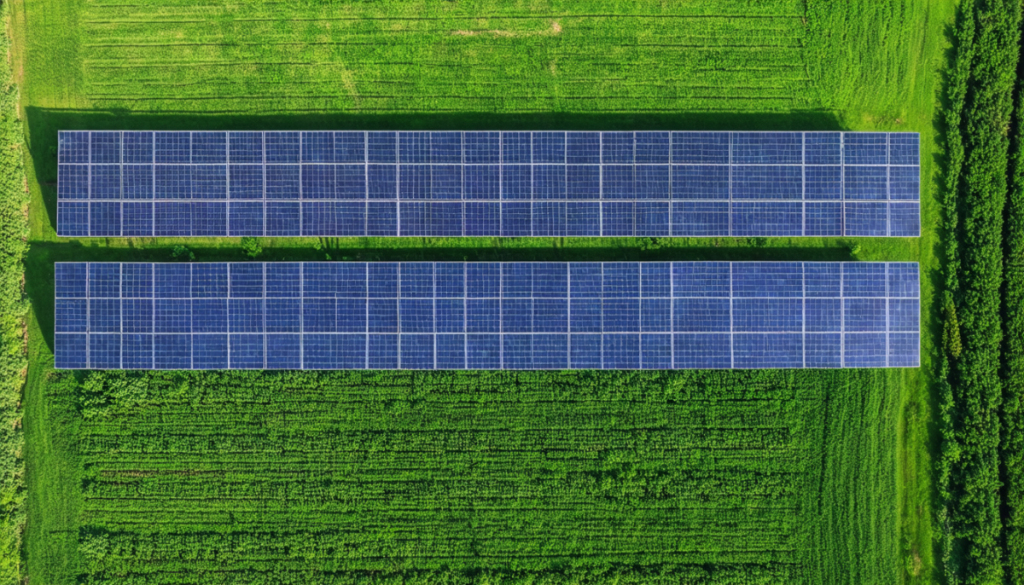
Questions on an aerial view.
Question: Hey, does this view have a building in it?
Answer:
No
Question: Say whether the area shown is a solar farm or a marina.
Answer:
solar farm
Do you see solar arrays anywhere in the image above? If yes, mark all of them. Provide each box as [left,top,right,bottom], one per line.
[57,130,920,236]
[55,262,920,369]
